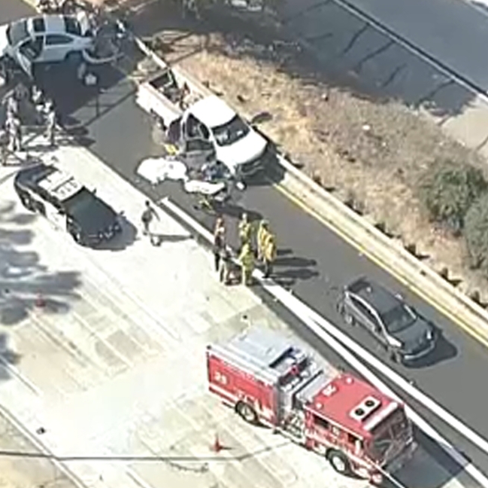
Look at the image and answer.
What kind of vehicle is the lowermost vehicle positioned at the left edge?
automobile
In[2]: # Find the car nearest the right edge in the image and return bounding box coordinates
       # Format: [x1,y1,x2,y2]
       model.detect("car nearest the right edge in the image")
[339,269,442,362]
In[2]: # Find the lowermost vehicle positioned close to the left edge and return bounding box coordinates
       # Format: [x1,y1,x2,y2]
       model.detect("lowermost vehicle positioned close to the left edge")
[8,160,128,249]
